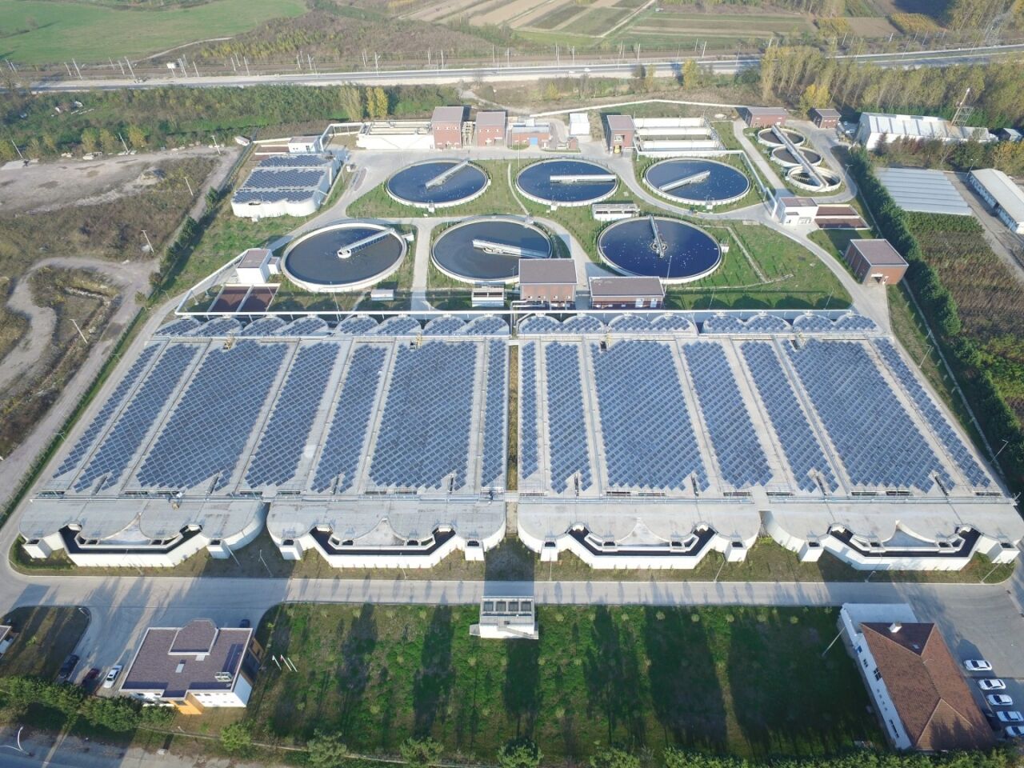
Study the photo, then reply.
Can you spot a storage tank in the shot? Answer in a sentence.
Yes, I can see a storage tank in this picture.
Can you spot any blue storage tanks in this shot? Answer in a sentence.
Yes, the frame does contain a blue storage tank.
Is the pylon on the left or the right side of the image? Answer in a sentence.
The pylon sits on the right side.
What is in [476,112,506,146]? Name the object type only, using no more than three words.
building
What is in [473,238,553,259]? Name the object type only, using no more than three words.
bridge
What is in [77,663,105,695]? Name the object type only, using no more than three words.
car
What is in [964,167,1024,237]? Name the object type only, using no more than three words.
barn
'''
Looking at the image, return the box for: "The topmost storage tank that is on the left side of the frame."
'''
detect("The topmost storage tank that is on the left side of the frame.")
[359,119,433,149]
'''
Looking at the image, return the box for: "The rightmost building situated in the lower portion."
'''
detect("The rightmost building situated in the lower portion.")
[833,605,993,753]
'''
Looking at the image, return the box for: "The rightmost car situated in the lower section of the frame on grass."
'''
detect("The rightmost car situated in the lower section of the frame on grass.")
[238,610,252,628]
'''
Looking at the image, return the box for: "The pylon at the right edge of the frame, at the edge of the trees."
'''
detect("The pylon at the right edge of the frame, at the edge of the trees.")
[977,0,1022,47]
